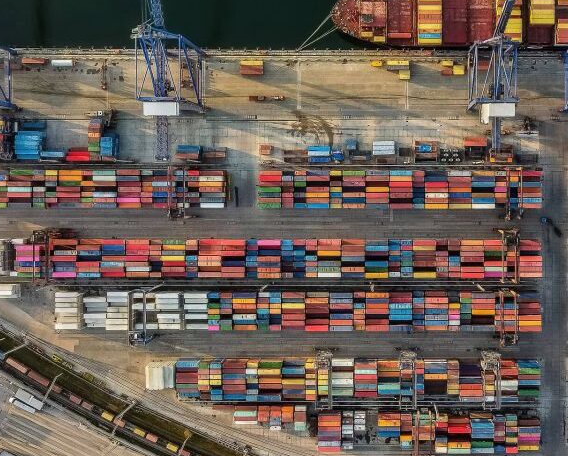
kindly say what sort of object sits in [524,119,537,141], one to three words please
vehicle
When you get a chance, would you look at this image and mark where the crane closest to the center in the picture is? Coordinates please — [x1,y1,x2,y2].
[166,165,200,220]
